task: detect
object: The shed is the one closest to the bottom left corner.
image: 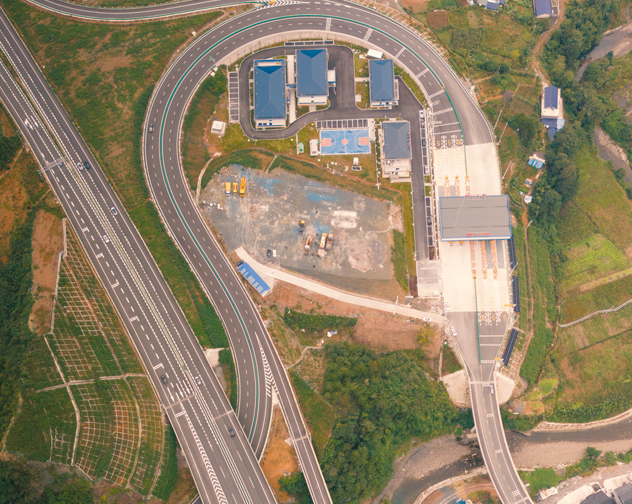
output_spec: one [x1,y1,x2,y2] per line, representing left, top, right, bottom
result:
[237,262,272,296]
